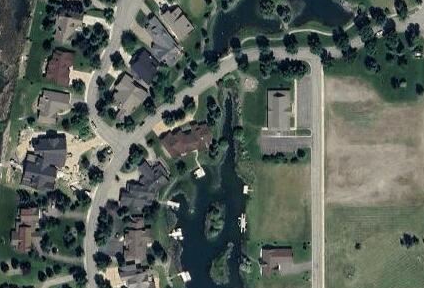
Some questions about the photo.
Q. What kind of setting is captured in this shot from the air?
residential area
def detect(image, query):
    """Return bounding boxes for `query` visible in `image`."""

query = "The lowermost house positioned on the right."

[261,245,292,276]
